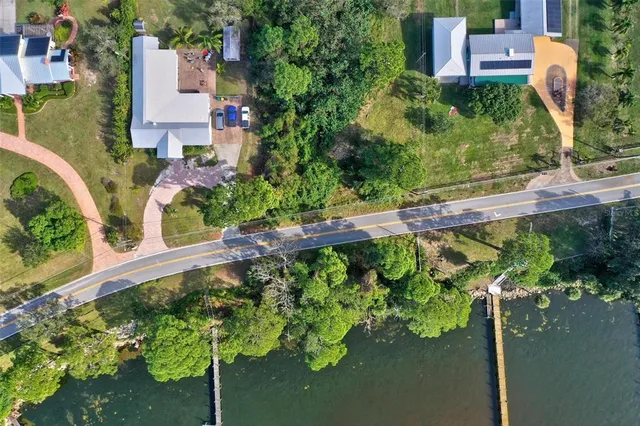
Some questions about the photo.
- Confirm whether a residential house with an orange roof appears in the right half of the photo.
No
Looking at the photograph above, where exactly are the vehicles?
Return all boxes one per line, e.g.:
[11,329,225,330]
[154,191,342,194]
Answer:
[215,109,224,130]
[240,106,249,129]
[226,106,236,128]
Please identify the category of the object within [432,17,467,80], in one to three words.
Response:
building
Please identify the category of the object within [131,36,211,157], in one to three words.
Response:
house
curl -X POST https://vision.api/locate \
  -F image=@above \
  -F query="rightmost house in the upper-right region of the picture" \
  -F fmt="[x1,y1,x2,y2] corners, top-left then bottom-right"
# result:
[464,0,562,86]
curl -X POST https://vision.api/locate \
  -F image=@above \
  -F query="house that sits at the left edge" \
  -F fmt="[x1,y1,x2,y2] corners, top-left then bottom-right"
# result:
[0,24,79,94]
